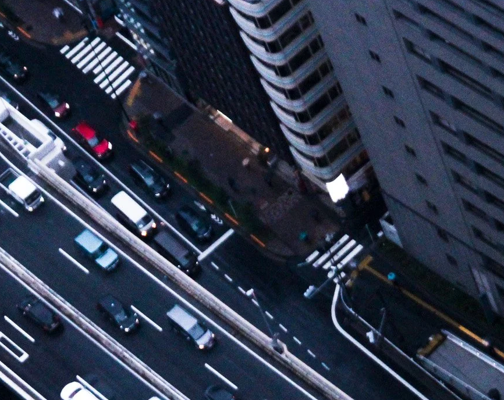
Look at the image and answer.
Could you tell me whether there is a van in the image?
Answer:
Yes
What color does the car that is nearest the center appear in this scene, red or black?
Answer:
black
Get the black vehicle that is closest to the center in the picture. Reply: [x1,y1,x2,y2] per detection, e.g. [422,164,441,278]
[171,203,218,244]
